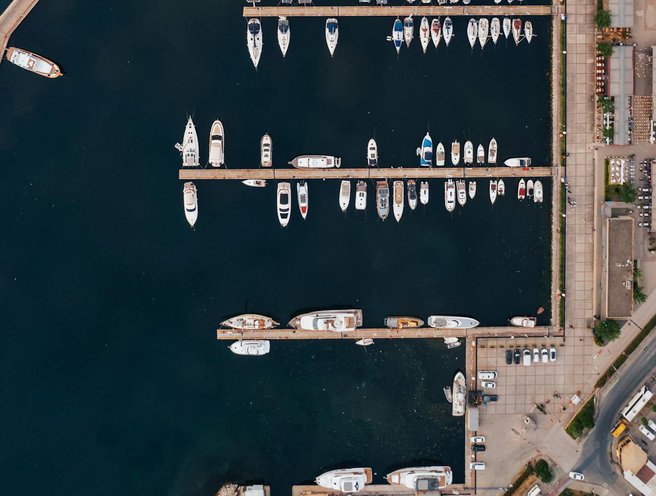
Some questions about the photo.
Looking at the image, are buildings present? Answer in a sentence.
Yes, the image includes a building.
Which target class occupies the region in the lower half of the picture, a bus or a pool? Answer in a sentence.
Looking in the lower half of the picture, you will find a bus.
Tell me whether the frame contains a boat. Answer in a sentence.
Yes, a boat is visible in the scene.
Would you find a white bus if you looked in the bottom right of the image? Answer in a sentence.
Yes, in the bottom right of the image there is a white bus.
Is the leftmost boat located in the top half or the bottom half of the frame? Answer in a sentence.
The leftmost boat is in the top half of the image.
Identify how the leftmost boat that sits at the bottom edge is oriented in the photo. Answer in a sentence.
What the image shows is the leftmost boat that sits at the bottom edge lying horizontally.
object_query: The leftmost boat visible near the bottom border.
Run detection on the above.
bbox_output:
[317,465,371,492]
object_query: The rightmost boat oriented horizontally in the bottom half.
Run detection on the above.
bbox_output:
[510,314,537,327]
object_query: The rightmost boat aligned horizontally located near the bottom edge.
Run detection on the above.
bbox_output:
[388,464,452,491]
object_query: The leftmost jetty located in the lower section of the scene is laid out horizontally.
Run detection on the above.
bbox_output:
[218,326,466,340]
